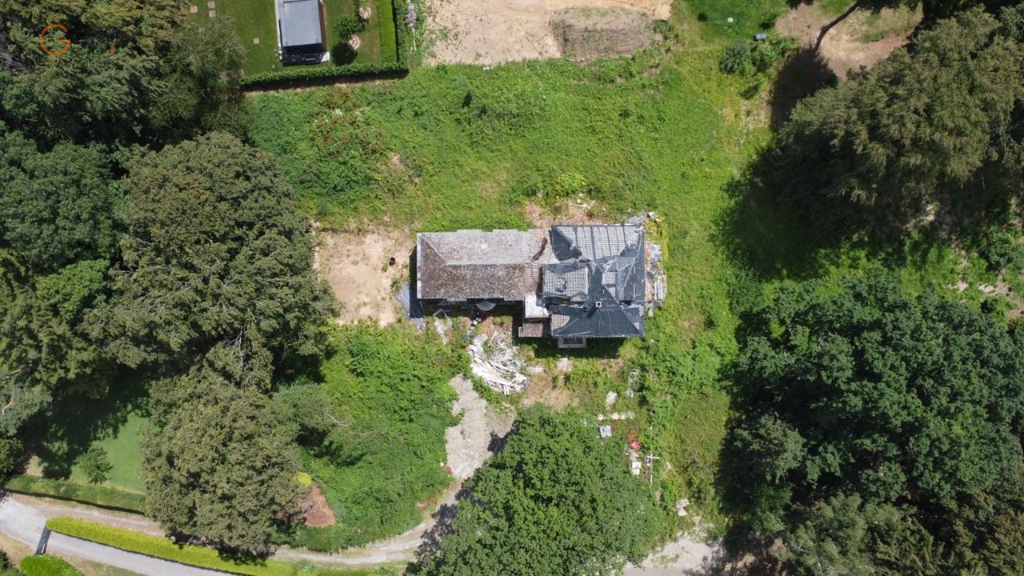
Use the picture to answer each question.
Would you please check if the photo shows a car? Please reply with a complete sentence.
No, no car can be seen from above.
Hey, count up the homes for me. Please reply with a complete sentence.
My tally gives 1 home in this photo.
